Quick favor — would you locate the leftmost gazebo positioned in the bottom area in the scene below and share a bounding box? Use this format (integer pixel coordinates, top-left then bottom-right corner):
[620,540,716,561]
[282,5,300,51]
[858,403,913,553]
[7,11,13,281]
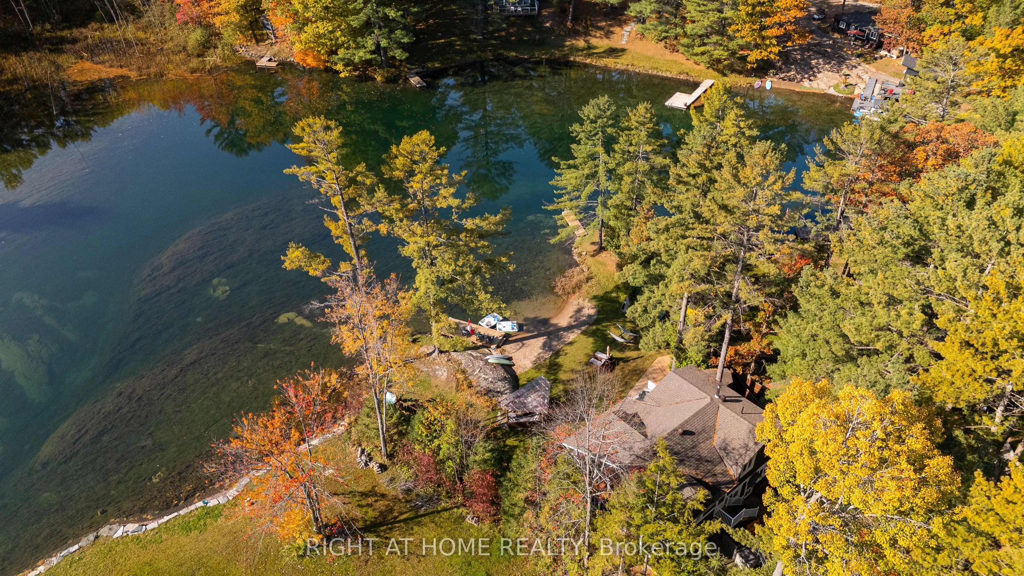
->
[500,375,551,434]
